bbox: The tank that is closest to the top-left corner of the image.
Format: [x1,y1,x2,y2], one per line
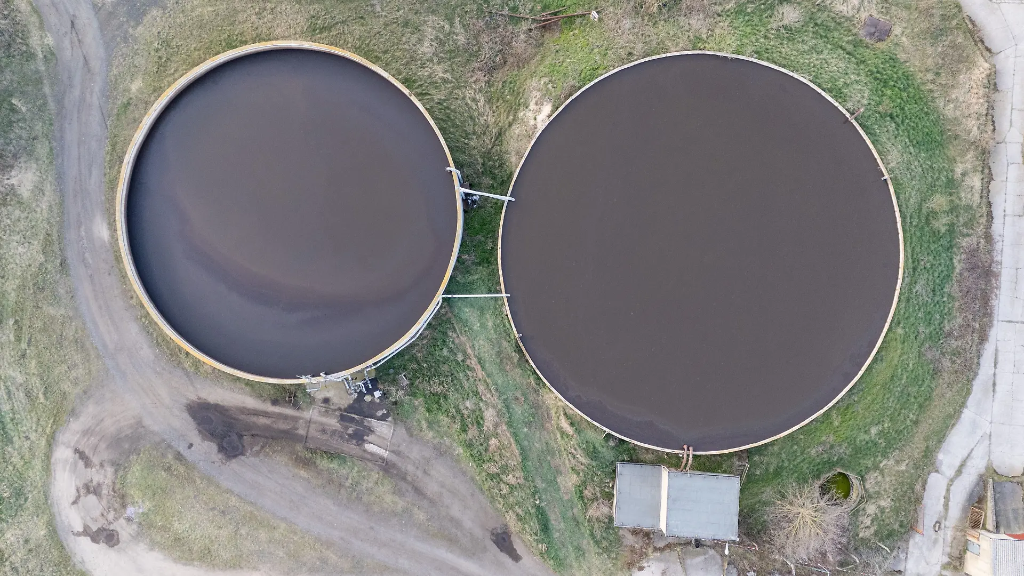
[117,40,464,384]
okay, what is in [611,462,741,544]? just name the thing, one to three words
building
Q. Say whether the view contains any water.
Yes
